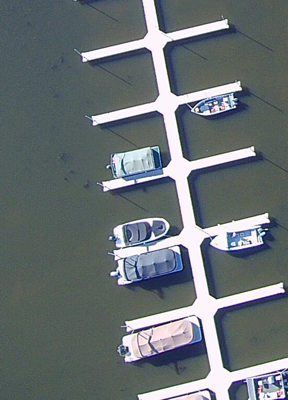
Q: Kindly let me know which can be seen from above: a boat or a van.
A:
boat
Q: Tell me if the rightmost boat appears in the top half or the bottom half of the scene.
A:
bottom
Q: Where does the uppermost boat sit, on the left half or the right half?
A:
right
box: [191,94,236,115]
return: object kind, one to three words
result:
boat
